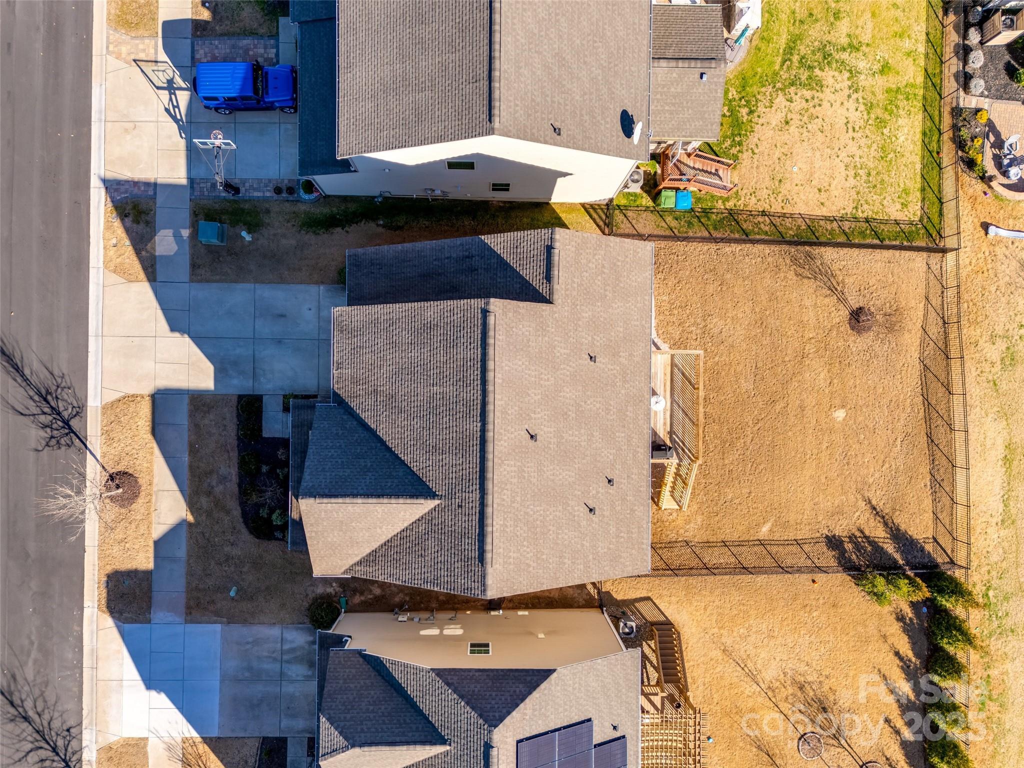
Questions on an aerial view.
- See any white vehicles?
No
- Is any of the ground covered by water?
No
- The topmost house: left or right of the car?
on the right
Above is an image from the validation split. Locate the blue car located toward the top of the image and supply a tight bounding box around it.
[191,61,296,116]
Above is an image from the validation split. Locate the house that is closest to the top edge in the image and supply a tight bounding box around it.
[288,0,727,205]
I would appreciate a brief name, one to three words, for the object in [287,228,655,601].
house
